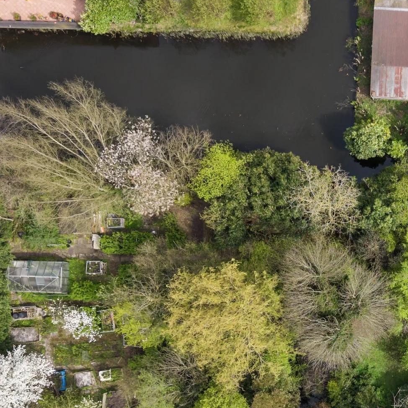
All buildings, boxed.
[369,0,408,104]
[0,261,67,292]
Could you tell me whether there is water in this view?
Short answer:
Yes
